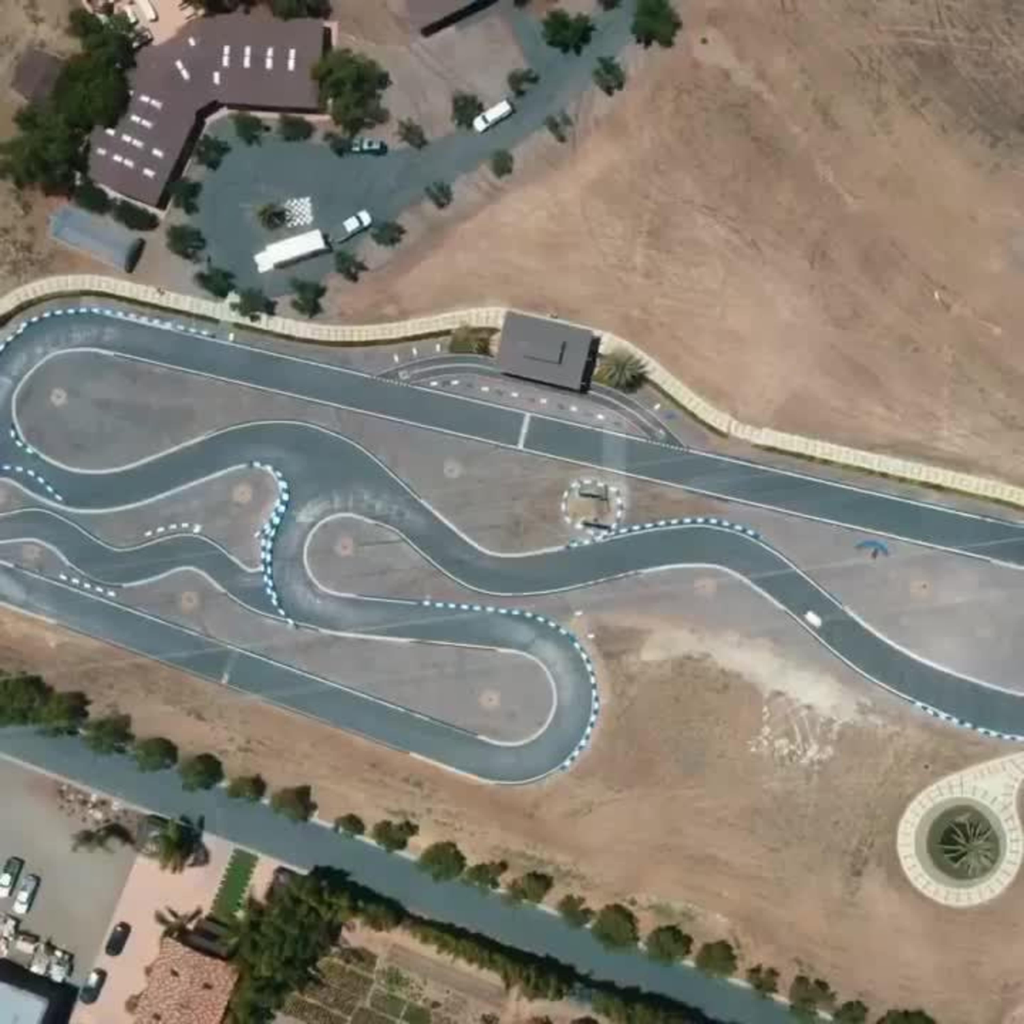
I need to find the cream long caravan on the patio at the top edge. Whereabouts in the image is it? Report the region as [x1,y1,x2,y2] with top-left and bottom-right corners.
[134,0,157,25]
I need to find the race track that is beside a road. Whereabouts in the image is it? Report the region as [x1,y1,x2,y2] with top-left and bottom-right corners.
[0,312,1024,783]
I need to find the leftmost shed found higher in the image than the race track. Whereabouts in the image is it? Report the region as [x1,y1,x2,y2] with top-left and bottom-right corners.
[12,42,68,105]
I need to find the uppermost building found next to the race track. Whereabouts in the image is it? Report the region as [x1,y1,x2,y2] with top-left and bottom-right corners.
[87,13,324,213]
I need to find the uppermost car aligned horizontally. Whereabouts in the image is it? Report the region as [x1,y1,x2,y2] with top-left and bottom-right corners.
[352,138,386,155]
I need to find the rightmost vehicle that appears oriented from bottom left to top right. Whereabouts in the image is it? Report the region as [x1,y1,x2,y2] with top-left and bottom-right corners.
[470,98,516,134]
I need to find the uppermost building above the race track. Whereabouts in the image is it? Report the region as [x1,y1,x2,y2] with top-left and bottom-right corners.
[407,0,488,40]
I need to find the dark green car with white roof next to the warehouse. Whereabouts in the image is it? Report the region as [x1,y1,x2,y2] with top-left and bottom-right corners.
[82,967,107,1003]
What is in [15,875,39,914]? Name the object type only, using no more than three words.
truck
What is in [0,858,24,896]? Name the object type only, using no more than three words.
truck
